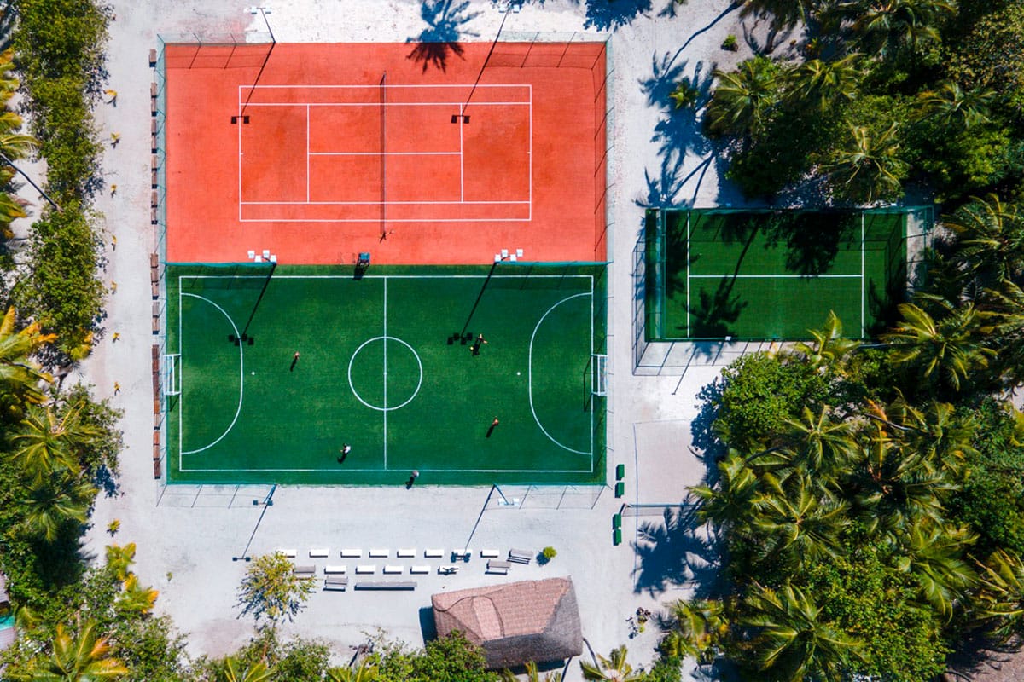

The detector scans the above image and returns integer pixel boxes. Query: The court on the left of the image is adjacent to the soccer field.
[165,43,607,264]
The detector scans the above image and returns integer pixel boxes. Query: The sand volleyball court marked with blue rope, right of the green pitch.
[634,418,732,591]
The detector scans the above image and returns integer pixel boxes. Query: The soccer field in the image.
[166,264,607,485]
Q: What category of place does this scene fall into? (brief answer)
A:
sports ground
